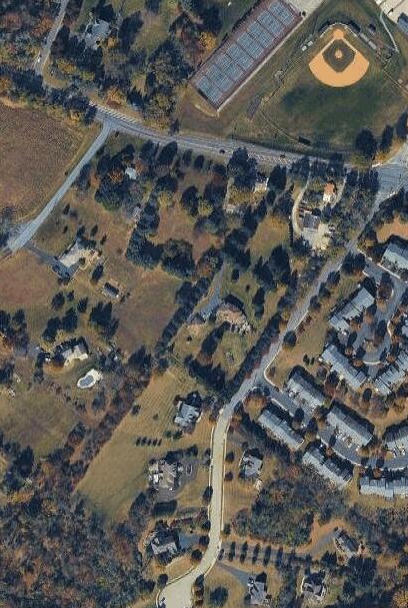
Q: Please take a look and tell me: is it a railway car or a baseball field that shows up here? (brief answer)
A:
baseball field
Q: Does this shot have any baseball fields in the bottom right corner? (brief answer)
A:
No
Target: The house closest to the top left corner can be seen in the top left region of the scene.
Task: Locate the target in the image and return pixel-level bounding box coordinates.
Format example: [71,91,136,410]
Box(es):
[84,18,111,45]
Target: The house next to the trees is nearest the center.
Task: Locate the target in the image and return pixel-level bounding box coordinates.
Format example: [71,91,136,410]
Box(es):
[217,300,249,333]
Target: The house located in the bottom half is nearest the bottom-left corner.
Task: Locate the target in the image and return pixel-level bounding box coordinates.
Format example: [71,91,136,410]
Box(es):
[149,533,183,559]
